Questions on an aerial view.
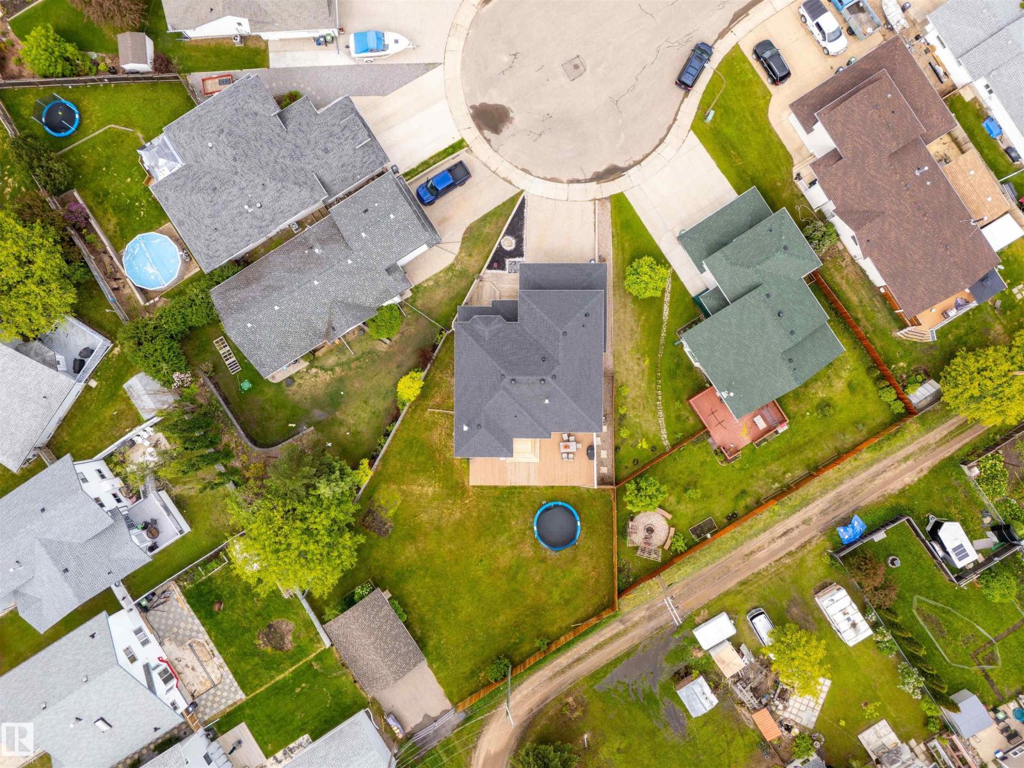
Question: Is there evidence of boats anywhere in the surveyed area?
Yes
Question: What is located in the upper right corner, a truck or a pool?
truck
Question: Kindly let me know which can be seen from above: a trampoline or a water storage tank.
trampoline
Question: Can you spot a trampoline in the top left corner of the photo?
Yes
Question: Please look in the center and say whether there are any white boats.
No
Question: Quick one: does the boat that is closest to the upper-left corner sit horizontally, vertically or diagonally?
horizontally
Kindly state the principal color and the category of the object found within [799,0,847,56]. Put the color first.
white truck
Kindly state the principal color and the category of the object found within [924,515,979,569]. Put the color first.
white trailer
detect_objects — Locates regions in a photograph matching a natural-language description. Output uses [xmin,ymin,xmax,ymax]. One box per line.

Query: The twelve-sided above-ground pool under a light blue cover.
[122,230,187,291]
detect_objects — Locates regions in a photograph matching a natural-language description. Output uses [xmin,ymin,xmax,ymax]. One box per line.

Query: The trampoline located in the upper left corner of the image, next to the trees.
[27,89,85,139]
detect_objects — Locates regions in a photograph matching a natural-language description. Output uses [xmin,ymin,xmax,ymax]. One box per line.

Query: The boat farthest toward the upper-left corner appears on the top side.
[344,31,422,64]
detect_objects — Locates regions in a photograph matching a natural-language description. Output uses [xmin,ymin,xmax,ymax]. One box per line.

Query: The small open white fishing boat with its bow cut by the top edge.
[879,0,910,36]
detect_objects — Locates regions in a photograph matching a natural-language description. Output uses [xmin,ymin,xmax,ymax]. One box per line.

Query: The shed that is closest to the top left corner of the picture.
[117,29,158,71]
